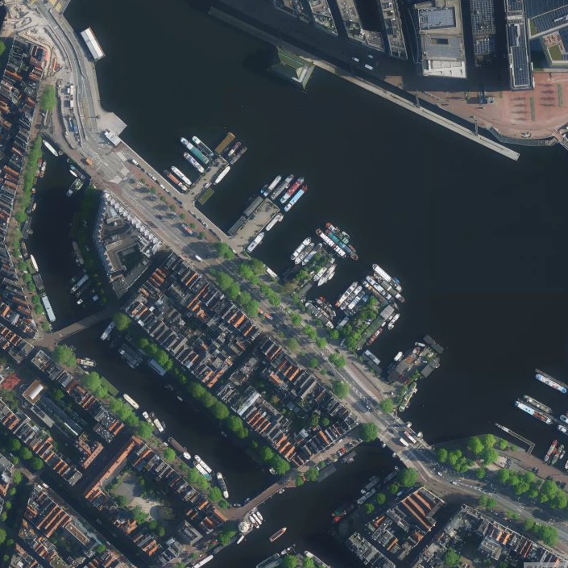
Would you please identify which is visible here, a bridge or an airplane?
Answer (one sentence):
The image shows a bridge.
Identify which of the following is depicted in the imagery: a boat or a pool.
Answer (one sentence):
Looking from above, you can make out a boat.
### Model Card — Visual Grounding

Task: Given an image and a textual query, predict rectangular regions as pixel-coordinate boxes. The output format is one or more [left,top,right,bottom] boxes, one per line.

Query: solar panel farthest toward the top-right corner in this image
[533,5,568,32]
